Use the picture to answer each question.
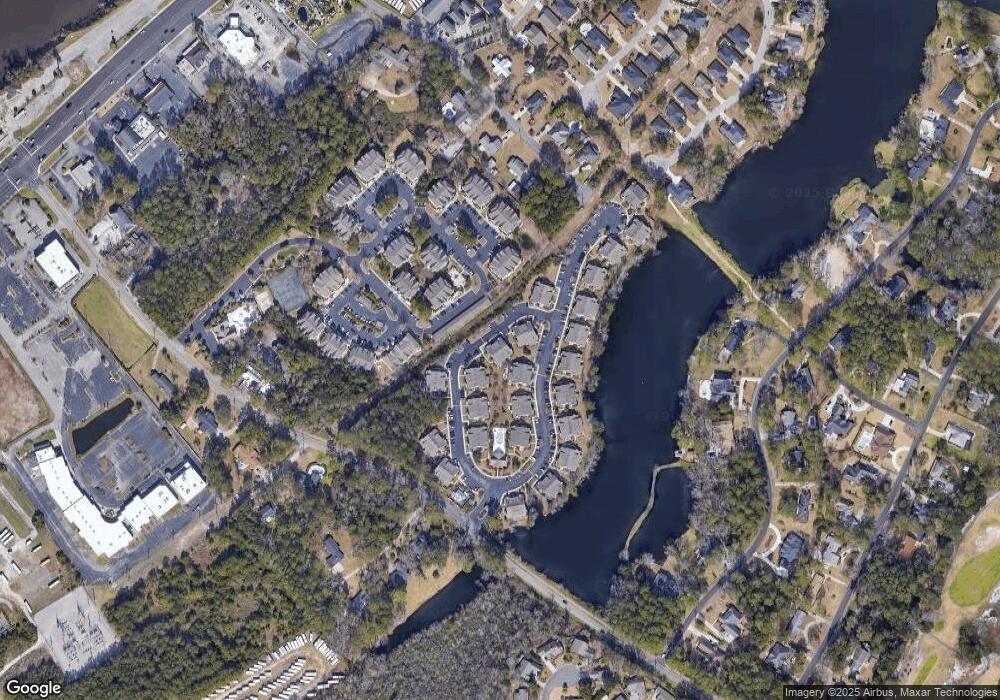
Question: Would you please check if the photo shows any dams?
Yes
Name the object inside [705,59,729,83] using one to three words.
house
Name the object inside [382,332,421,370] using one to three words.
building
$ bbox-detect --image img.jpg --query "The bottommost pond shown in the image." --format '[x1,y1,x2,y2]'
[373,567,484,655]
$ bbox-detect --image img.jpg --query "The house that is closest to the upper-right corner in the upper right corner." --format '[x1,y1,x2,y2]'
[953,50,978,68]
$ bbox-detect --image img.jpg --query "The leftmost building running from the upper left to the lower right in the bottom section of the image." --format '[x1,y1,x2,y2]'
[31,446,134,557]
